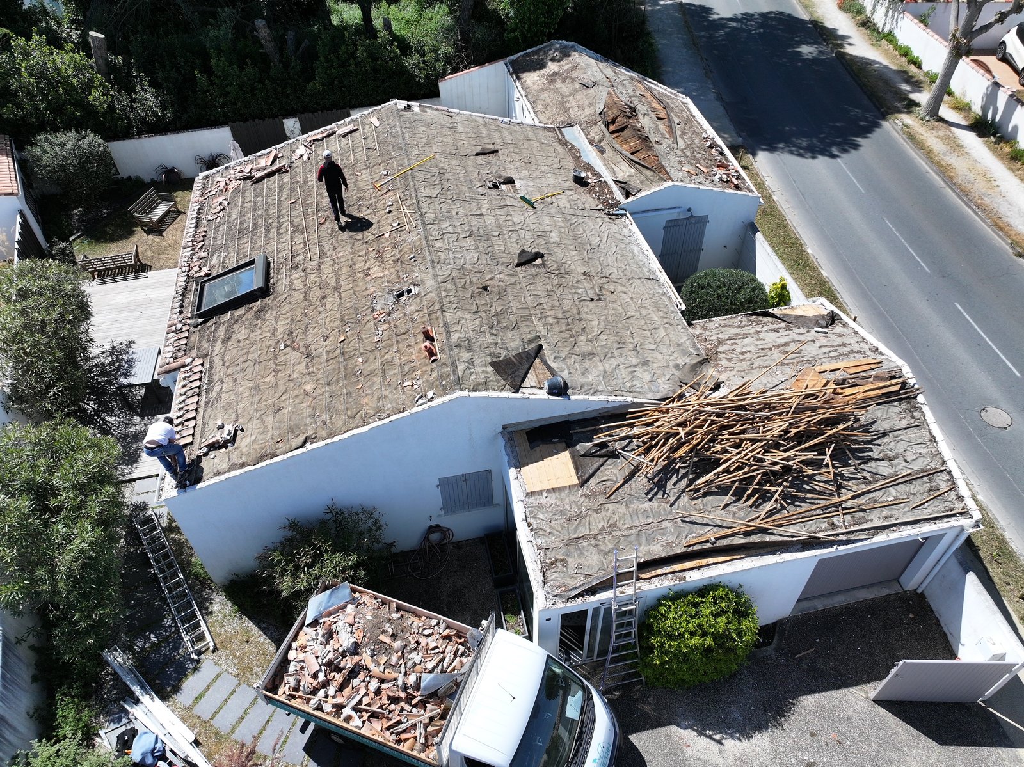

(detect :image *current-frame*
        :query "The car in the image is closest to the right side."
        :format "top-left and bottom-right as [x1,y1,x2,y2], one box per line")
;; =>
[997,35,1024,84]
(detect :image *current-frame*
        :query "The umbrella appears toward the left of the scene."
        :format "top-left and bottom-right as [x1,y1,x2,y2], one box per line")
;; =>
[223,119,243,165]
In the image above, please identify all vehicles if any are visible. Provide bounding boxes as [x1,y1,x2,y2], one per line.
[253,577,627,767]
[997,35,1024,84]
